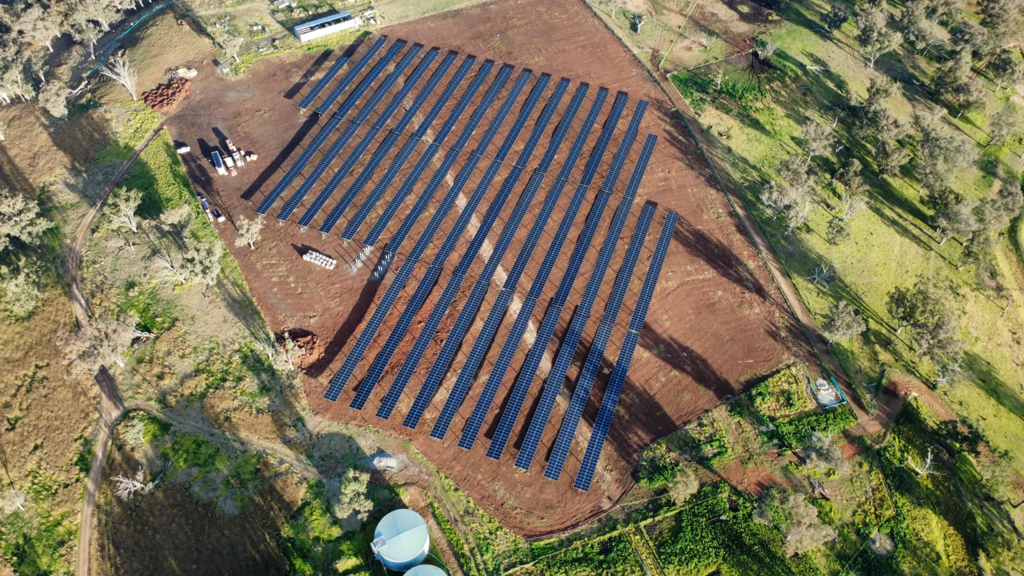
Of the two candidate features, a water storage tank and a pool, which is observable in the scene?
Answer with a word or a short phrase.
water storage tank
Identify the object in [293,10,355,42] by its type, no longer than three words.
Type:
shed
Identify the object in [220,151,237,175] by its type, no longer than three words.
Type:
vehicle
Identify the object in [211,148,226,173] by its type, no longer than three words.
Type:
vehicle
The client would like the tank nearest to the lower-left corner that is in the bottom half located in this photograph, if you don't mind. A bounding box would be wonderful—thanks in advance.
[370,514,429,574]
